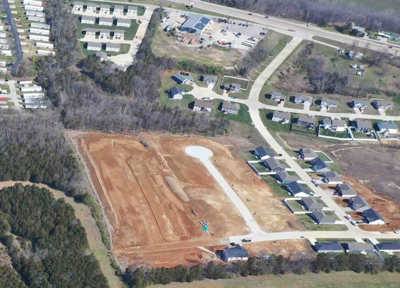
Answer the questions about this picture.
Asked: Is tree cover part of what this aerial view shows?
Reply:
Yes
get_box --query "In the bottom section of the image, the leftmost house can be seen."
[219,247,248,261]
